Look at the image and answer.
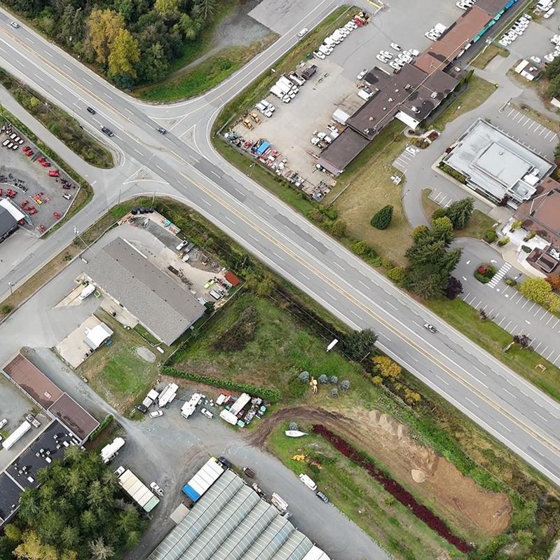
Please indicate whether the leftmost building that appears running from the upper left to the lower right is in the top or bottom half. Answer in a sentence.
You can find the leftmost building that appears running from the upper left to the lower right in the bottom half.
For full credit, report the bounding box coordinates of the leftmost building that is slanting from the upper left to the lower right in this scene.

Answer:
[3,354,65,418]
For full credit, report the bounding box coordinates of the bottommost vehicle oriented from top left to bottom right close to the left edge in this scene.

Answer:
[24,413,42,427]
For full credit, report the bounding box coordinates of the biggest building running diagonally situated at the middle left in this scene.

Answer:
[82,237,206,348]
